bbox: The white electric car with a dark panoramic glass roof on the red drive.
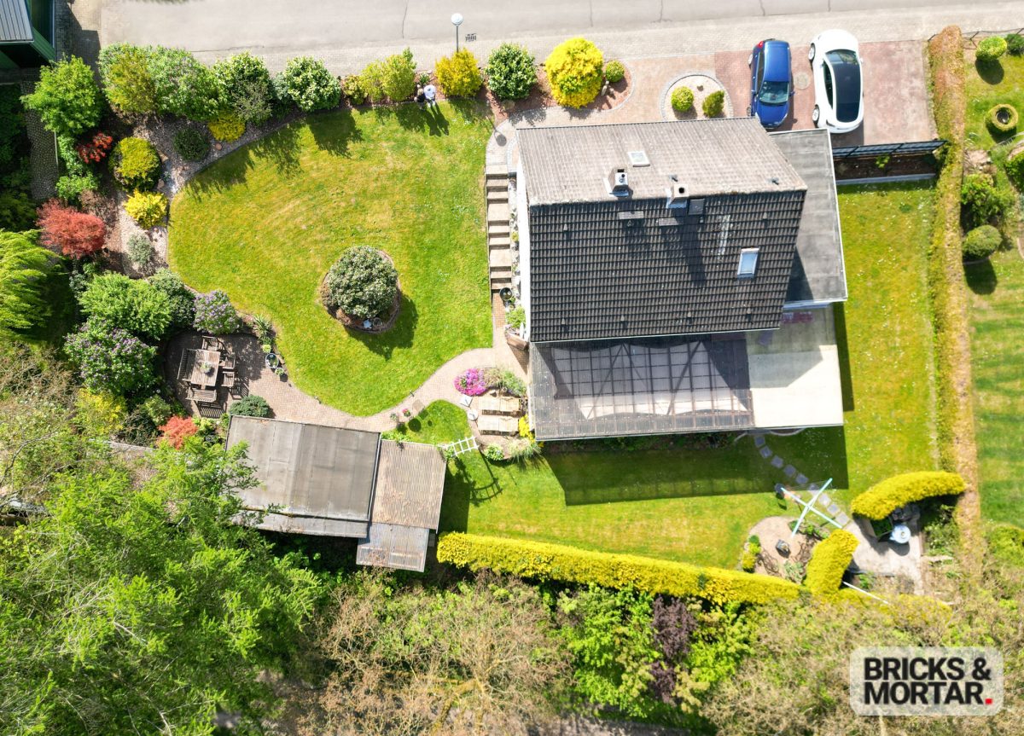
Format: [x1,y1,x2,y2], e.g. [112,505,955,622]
[805,30,866,136]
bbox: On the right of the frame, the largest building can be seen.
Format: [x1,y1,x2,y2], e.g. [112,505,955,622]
[517,111,810,347]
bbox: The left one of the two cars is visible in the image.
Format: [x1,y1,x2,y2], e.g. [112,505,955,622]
[742,39,796,131]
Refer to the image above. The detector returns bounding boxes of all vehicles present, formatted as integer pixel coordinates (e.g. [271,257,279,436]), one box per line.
[805,30,866,136]
[742,39,796,131]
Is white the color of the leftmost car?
No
